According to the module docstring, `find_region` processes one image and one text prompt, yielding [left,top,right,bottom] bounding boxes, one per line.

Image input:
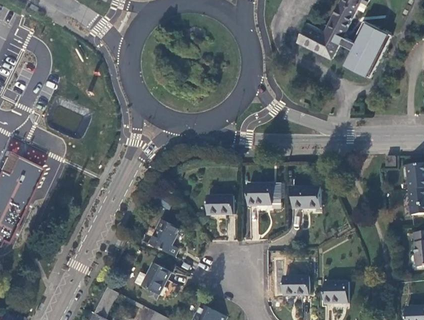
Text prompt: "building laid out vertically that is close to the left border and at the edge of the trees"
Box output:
[0,139,49,247]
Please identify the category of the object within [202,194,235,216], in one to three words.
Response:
house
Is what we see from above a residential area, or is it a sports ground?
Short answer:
residential area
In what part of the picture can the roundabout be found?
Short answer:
top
